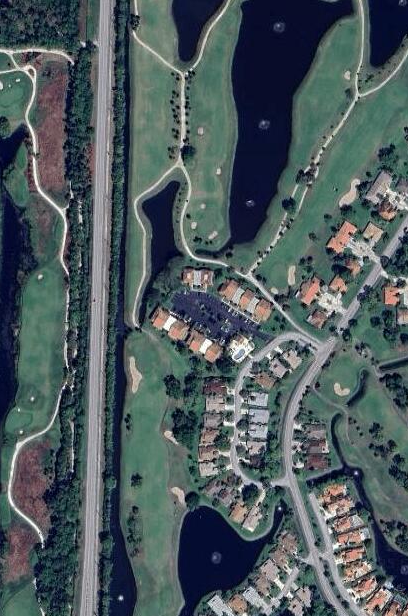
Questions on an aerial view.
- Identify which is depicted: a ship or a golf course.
golf course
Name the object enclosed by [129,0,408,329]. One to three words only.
golf course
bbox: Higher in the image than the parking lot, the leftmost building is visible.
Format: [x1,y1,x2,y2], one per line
[183,268,214,286]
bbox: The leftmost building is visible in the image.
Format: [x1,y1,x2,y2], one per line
[151,307,189,337]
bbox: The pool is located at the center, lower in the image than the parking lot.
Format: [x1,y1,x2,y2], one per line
[231,345,250,362]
